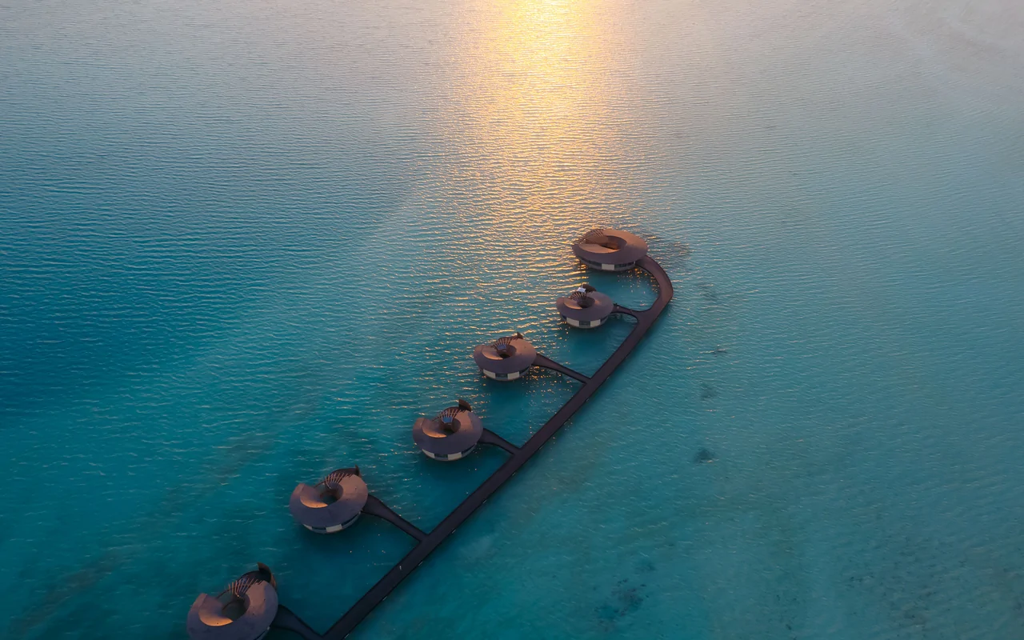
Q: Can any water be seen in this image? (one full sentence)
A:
Yes, there's water in this view.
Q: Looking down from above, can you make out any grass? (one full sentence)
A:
No, there is no grass in the image.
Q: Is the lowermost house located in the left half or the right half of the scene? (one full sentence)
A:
The lowermost house appears in the left half of the scene.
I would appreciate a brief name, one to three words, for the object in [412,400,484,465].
house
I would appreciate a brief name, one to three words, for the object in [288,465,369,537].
house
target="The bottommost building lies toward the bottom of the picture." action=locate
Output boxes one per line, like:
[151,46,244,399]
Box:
[183,566,280,640]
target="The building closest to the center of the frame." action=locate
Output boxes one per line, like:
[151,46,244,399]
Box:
[473,333,537,383]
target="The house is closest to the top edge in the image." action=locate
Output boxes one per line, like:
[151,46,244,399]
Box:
[572,232,648,272]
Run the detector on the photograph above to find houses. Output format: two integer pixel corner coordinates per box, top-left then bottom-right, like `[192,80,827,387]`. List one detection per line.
[572,232,648,272]
[473,333,537,383]
[556,284,614,330]
[183,566,280,640]
[412,400,484,465]
[288,465,369,537]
